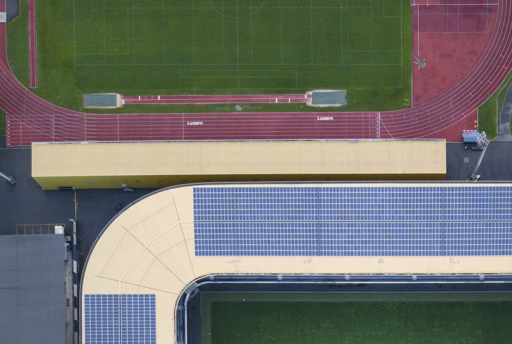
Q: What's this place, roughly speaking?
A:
sports ground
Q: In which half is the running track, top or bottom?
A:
top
